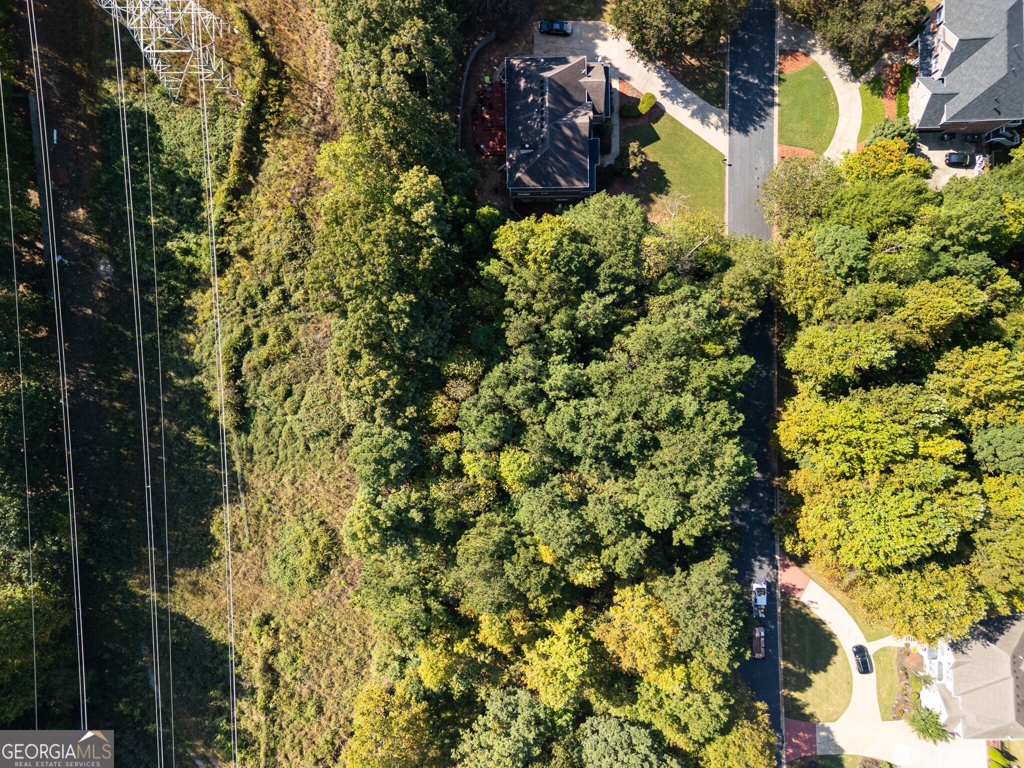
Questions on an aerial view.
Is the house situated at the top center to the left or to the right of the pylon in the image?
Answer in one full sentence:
Looking at the picture, you'll find the house situated at the top center to the right of the pylon.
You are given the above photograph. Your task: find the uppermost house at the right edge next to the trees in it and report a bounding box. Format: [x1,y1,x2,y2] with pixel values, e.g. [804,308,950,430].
[904,0,1023,135]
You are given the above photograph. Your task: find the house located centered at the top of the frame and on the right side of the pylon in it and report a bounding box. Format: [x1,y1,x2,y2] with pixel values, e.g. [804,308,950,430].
[505,55,610,200]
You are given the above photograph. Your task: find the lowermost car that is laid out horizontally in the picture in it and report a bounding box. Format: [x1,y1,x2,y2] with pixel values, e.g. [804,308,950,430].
[943,153,974,168]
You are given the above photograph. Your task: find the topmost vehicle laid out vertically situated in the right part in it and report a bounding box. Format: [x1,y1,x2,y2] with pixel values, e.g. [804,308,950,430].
[751,578,768,618]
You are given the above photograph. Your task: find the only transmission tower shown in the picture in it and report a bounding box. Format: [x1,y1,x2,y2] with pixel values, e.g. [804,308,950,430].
[98,0,244,105]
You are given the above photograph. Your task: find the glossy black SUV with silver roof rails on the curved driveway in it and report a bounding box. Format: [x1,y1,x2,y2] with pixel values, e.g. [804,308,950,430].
[852,642,872,676]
